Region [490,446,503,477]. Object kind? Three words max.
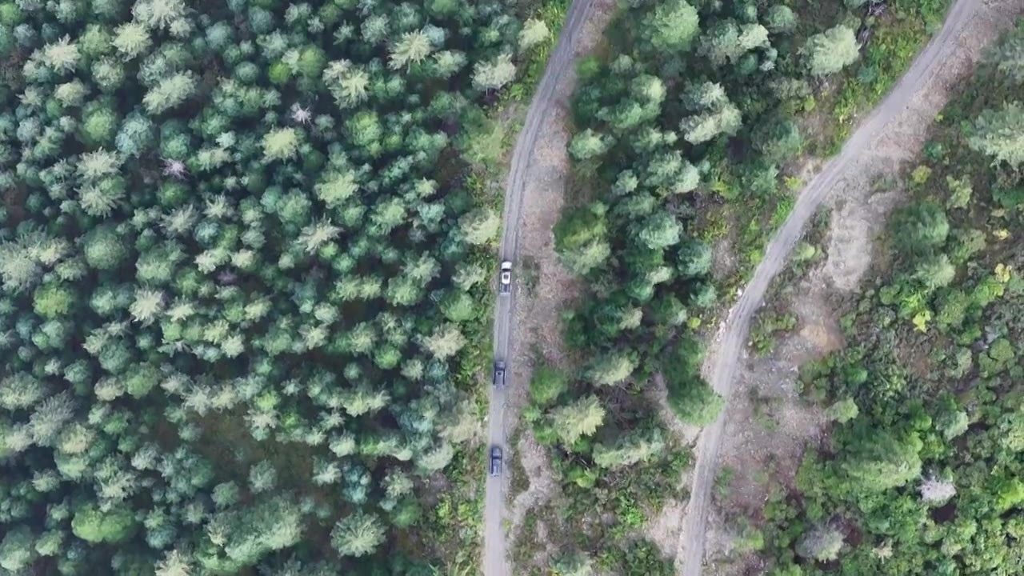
vehicle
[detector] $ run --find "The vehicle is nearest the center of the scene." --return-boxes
[499,261,513,295]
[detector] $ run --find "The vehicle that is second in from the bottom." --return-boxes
[493,360,506,390]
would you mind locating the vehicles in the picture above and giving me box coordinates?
[493,360,506,390]
[499,261,513,295]
[490,446,503,477]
